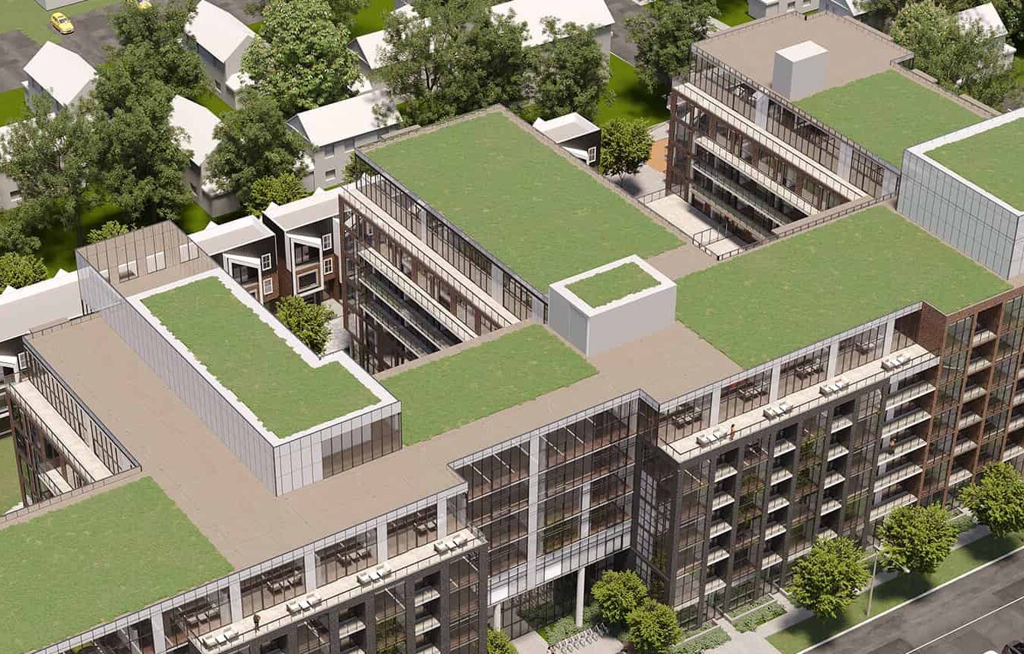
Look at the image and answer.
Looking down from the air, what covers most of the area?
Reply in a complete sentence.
Most of the picture is covered by buildings.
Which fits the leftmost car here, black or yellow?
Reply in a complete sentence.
The leftmost car looks yellow in the image.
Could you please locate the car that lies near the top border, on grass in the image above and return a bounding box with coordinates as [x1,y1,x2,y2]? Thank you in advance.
[49,13,74,33]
